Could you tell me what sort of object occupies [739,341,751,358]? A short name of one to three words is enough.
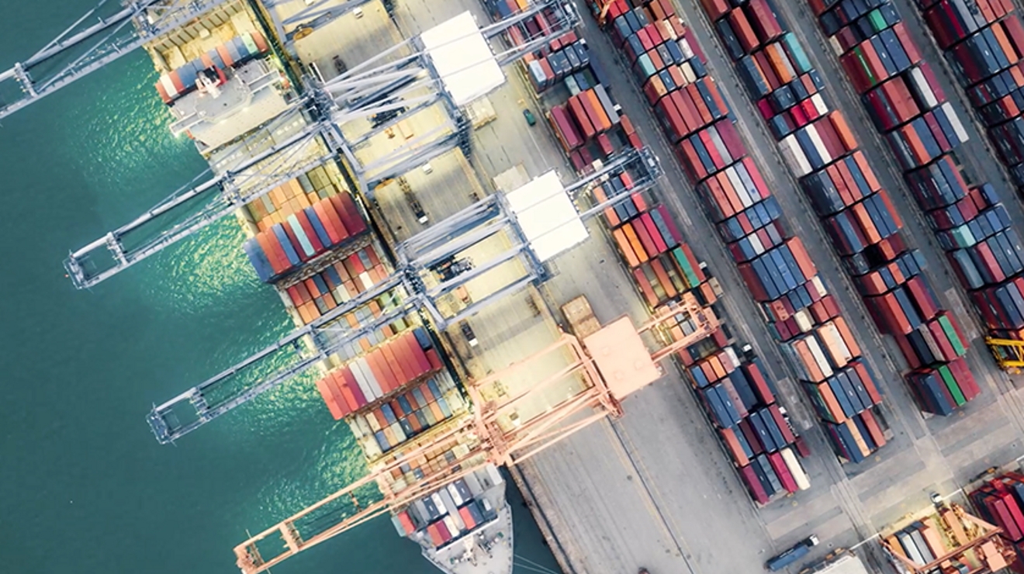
vehicle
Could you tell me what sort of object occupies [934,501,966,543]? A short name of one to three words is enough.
shipping container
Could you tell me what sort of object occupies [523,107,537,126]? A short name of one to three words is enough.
vehicle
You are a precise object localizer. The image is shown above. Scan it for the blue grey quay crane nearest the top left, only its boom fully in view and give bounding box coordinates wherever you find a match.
[0,0,399,128]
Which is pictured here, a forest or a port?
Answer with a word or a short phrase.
port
